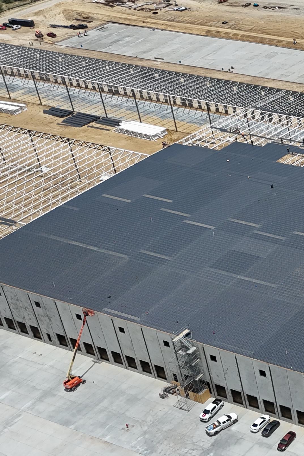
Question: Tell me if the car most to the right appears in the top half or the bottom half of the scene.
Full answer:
You can find the car most to the right in the bottom half.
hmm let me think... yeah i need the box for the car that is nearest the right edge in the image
[275,428,296,449]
